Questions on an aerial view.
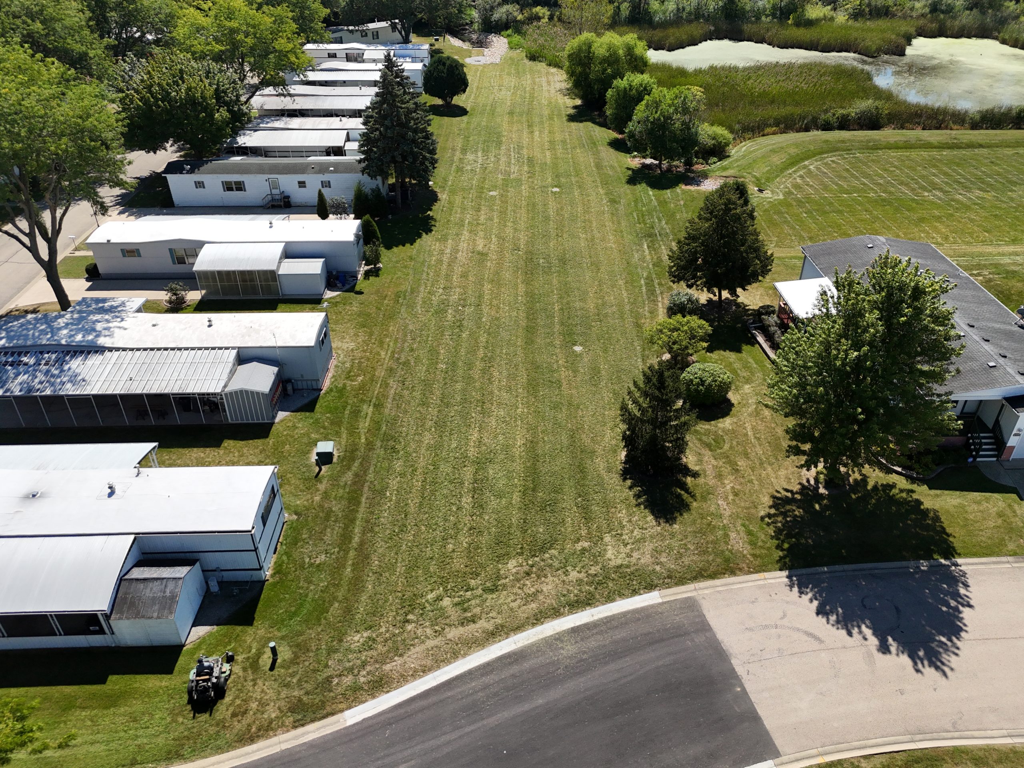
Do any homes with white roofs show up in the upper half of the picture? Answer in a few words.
Yes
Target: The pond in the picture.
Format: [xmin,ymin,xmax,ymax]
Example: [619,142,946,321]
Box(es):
[641,40,1024,118]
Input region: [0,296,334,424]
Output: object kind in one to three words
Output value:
house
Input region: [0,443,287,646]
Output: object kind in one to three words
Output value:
house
